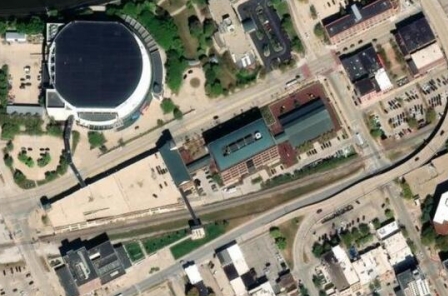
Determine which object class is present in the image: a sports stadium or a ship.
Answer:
sports stadium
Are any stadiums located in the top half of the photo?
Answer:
Yes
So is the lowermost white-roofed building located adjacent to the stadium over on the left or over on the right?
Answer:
left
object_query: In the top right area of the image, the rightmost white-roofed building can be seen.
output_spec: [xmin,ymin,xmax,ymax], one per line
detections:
[412,43,445,75]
